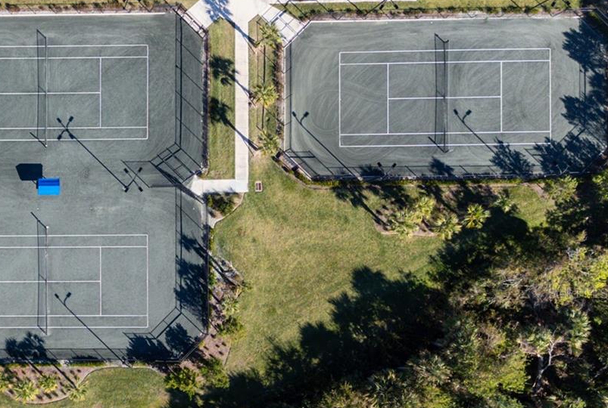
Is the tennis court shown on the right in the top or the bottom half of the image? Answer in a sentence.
The top half of the photo is where the tennis court shown on the right is.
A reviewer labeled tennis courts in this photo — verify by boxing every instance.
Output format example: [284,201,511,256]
[0,14,206,189]
[285,21,608,179]
[0,189,208,362]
